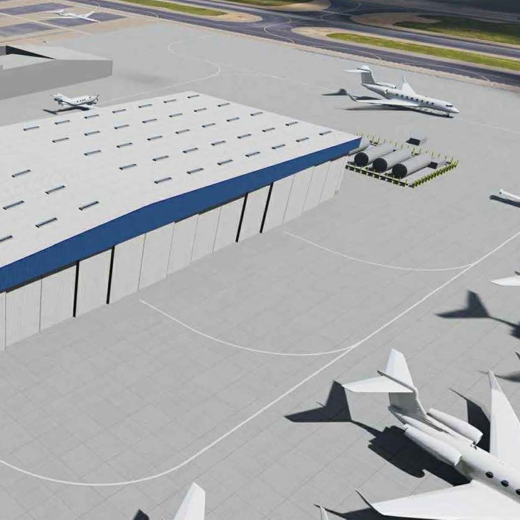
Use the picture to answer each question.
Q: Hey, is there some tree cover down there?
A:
No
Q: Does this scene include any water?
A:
No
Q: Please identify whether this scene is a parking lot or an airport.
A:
airport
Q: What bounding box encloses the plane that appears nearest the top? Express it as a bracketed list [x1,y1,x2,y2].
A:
[64,9,101,23]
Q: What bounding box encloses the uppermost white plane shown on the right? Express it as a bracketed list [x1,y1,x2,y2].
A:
[347,65,464,118]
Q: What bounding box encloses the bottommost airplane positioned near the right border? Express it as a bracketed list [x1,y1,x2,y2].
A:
[344,349,520,520]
